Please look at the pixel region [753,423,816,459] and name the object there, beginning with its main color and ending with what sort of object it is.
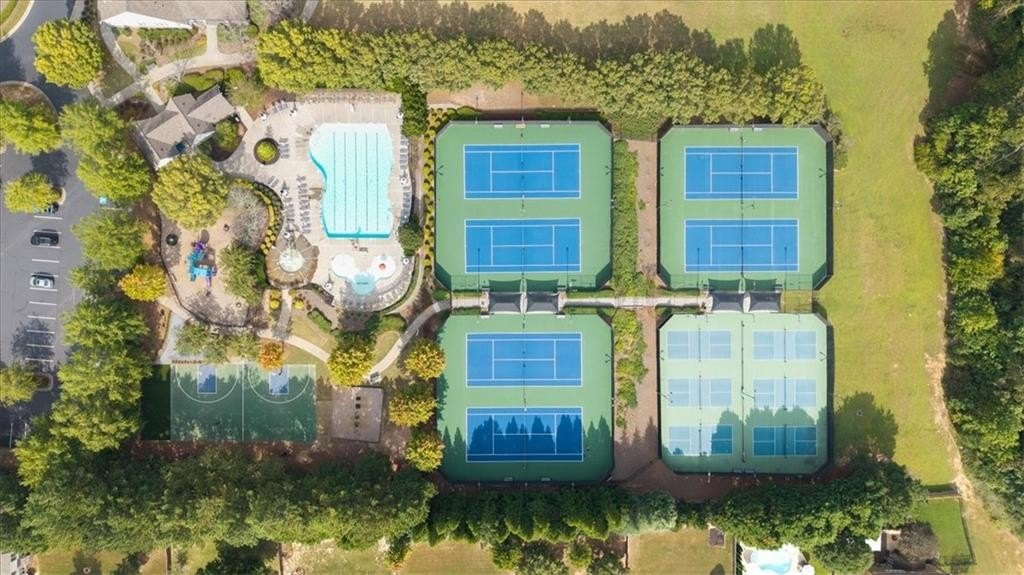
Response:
blue sports court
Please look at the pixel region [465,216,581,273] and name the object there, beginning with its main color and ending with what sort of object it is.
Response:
blue tennis court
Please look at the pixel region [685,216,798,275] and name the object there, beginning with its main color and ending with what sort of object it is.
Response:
blue tennis court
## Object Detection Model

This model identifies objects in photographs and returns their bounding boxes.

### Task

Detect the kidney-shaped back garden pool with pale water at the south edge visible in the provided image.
[751,547,794,575]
